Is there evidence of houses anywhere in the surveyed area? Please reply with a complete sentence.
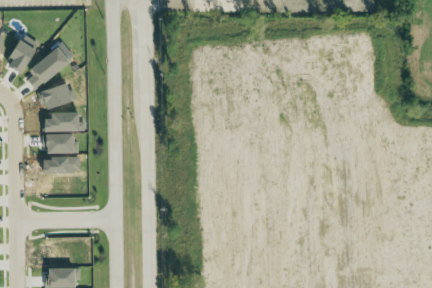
Yes, the image includes a house.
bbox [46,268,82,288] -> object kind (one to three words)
house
